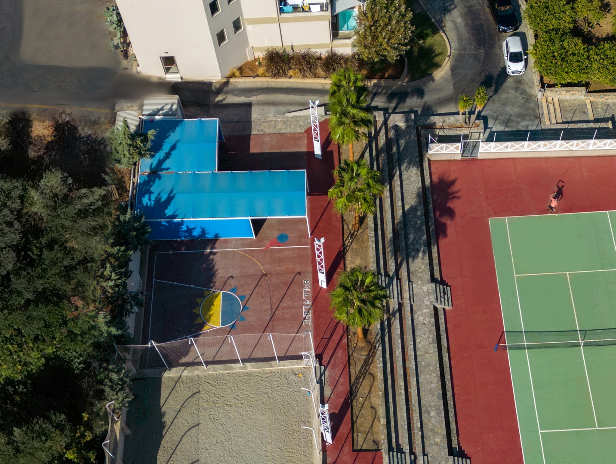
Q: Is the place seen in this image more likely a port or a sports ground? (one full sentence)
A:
The picture captures a sports ground.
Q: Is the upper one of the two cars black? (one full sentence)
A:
Yes, the upper one of the two cars is indeed black.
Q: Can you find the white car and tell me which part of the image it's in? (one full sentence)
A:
The white car sits in the top right section of the image.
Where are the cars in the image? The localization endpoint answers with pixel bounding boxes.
[491,0,518,33]
[503,37,528,75]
